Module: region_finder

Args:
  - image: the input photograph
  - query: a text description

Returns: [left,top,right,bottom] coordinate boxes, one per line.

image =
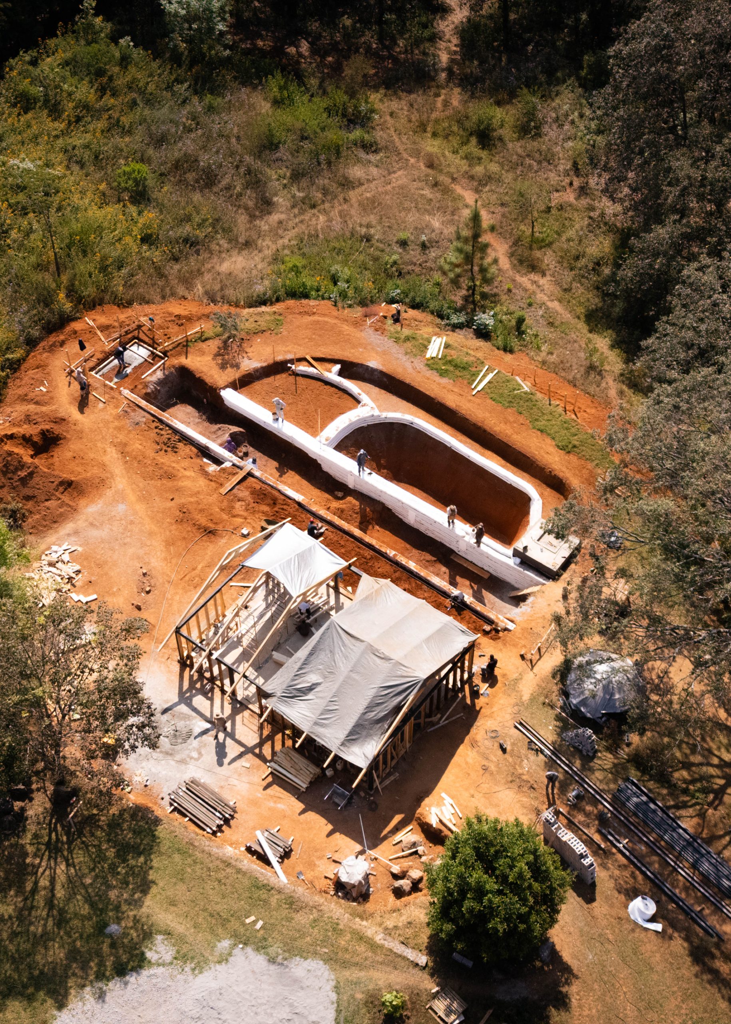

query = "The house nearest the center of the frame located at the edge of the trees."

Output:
[153,520,484,790]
